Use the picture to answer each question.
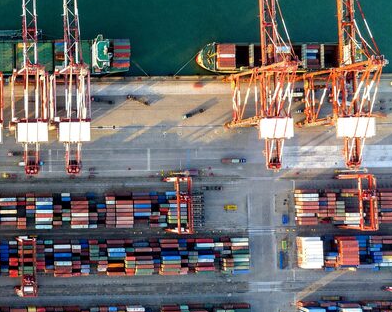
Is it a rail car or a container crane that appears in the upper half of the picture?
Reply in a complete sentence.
The feature located in the upper half of the picture is a container crane.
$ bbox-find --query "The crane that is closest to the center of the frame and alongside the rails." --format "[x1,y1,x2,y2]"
[160,178,194,234]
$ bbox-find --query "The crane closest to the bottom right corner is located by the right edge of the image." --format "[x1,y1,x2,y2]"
[333,175,379,232]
